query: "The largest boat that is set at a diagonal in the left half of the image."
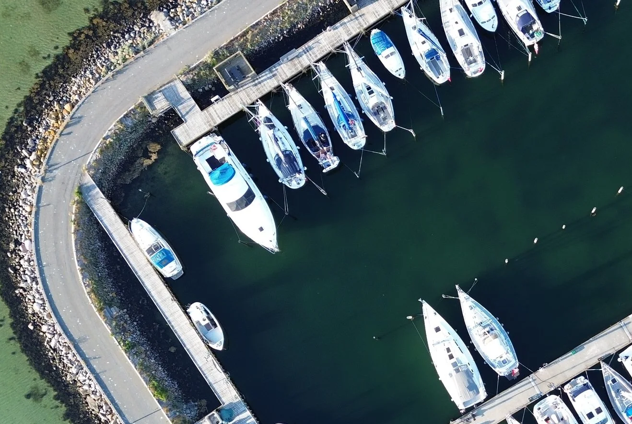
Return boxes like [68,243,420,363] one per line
[192,131,280,252]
